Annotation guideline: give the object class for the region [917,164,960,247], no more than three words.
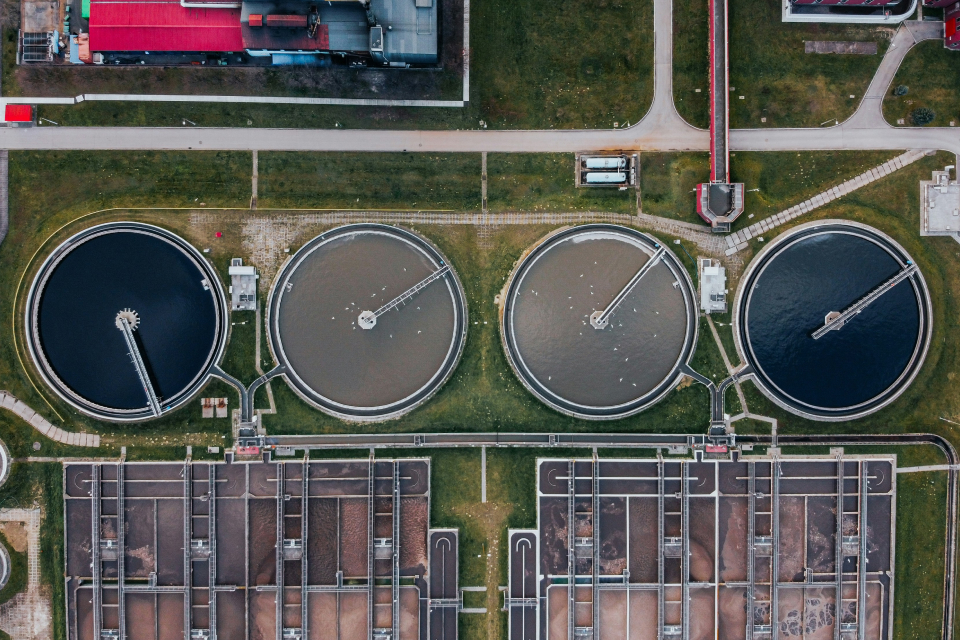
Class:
building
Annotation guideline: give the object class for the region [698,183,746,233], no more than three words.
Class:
house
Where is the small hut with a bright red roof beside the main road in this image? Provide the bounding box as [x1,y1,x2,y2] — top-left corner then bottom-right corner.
[5,105,37,124]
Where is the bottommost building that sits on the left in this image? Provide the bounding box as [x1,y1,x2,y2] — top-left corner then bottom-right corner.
[229,259,261,310]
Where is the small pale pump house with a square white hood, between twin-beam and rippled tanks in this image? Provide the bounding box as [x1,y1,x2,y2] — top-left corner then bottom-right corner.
[698,260,728,314]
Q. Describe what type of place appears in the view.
industrial area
